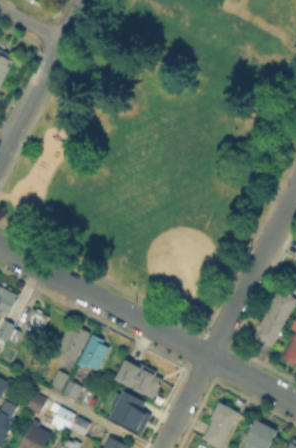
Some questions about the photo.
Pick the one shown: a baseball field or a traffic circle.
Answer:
baseball field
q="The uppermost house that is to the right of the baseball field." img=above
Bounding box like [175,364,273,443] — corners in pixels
[258,294,296,344]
